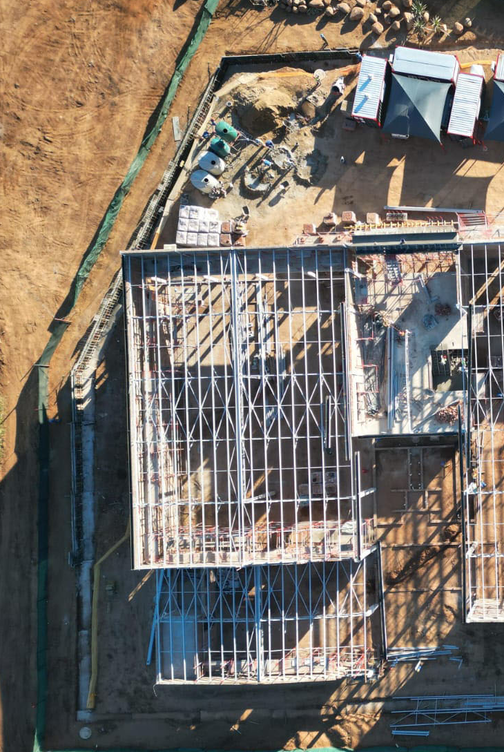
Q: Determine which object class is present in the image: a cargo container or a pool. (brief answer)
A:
cargo container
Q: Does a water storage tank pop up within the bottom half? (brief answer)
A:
No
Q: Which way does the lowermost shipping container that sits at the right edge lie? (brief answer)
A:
up and down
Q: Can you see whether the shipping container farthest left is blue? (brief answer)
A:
No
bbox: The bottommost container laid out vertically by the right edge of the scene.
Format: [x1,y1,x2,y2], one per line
[450,72,486,147]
